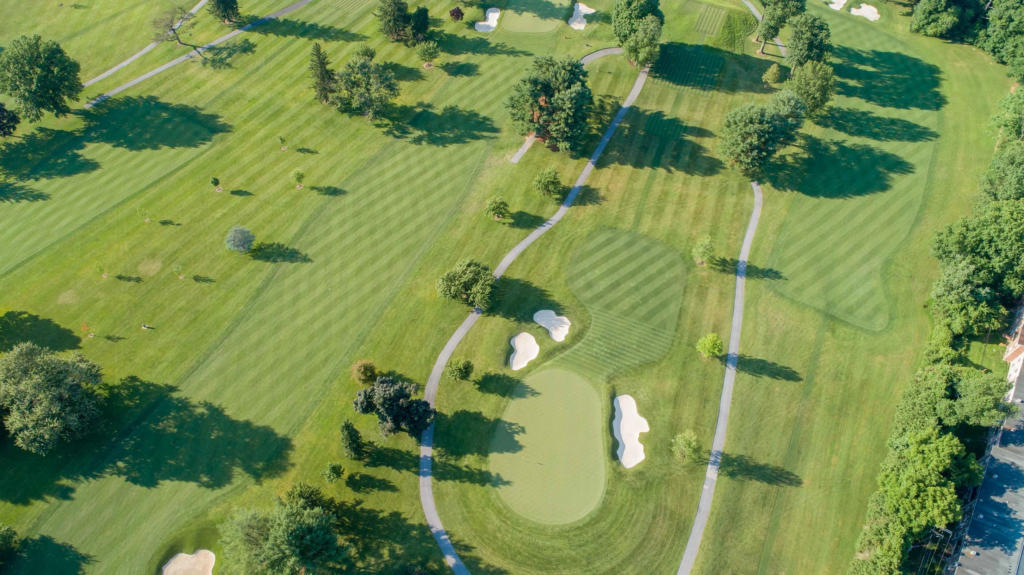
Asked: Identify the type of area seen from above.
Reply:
golf course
